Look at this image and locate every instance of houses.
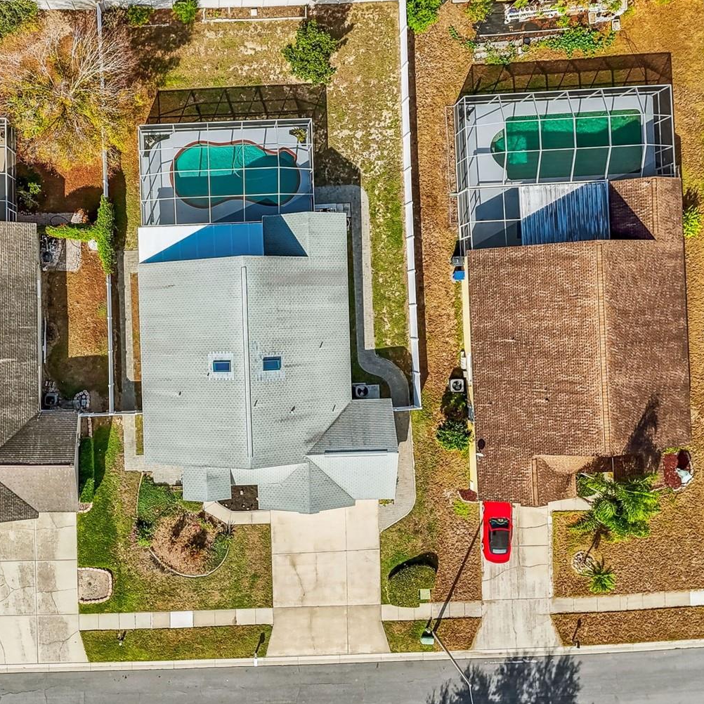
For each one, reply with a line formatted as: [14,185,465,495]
[457,177,690,507]
[0,221,81,524]
[137,212,398,513]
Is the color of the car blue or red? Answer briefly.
red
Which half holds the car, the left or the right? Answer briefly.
right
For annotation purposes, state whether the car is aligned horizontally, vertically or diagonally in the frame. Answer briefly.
vertically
